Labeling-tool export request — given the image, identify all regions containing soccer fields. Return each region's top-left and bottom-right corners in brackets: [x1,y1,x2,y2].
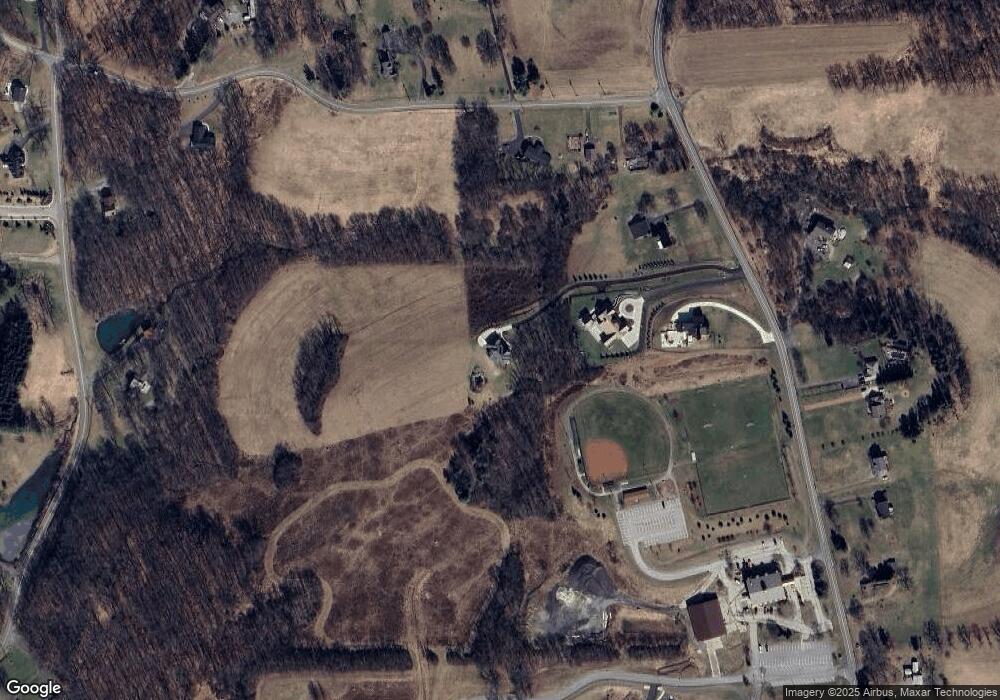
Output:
[681,376,790,514]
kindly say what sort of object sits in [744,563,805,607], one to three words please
building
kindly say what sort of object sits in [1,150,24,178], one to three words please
house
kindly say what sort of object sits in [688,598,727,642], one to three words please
building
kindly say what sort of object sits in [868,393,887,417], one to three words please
house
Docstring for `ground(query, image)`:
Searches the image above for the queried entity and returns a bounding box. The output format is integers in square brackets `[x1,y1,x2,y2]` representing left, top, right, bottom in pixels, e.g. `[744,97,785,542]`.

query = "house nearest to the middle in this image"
[483,334,512,364]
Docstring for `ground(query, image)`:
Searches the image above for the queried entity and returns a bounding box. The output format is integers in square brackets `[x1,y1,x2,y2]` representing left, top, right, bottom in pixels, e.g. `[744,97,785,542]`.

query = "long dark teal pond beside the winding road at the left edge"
[0,449,62,560]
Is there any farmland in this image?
Yes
